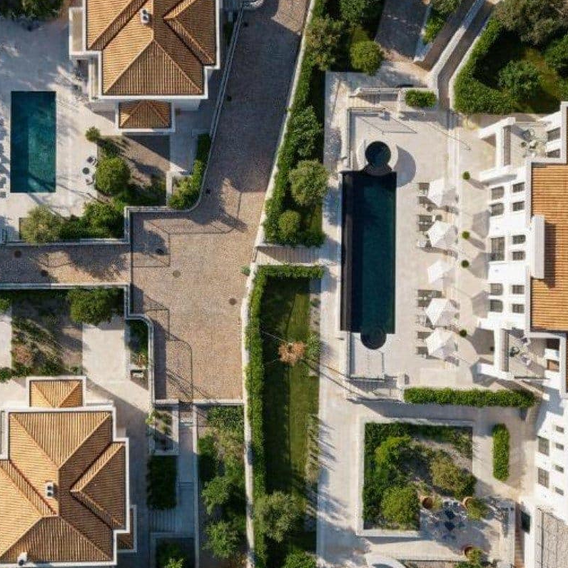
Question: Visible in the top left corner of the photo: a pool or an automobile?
pool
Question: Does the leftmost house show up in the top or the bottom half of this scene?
bottom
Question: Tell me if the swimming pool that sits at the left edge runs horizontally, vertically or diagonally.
vertically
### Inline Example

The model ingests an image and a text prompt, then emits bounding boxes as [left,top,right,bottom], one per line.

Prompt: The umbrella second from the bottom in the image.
[424,295,455,328]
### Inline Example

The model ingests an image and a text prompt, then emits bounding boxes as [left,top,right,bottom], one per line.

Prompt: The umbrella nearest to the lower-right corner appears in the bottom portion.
[425,326,455,359]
